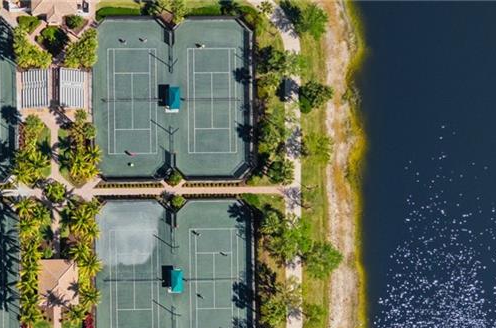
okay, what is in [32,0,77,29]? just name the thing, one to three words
building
